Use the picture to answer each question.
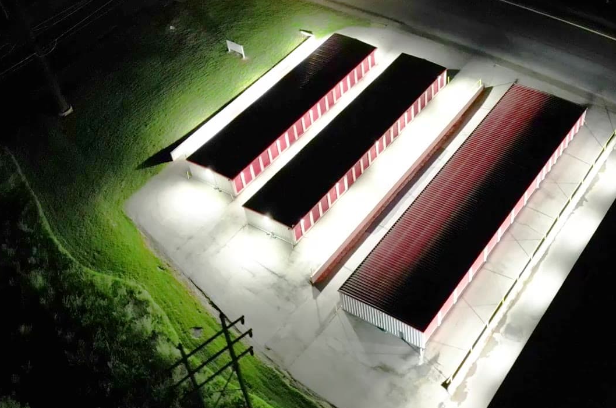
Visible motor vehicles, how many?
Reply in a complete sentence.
The photo contains no motor vehicles.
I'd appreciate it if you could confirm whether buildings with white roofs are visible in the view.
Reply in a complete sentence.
No, there appears to be no building with a white roof in this shot.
